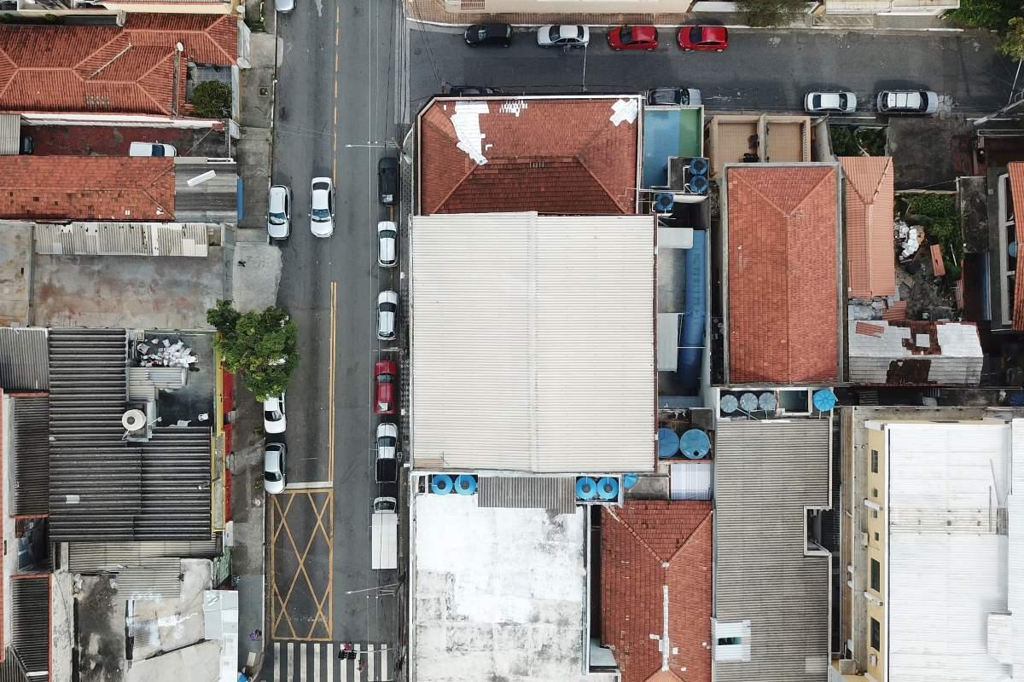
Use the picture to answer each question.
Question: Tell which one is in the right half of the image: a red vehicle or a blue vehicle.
red vehicle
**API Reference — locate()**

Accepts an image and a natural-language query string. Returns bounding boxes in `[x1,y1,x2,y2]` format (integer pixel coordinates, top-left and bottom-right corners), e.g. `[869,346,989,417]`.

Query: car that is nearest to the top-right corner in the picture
[874,86,937,117]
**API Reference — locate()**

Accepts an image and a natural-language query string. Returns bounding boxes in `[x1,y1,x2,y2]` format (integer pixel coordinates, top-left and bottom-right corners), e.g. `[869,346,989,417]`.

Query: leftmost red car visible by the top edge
[606,23,659,53]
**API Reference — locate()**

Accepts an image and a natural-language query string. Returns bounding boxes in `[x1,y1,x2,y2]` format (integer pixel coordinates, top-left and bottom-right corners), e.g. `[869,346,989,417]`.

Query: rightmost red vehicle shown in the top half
[676,23,729,54]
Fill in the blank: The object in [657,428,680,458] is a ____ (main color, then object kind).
blue water tank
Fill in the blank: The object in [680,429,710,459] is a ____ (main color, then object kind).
blue water tank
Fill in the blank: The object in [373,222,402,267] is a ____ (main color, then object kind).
white car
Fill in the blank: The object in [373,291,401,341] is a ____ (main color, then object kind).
white car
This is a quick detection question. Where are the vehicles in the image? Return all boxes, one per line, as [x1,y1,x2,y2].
[374,157,403,207]
[334,651,360,664]
[645,83,702,105]
[371,359,399,415]
[373,291,401,341]
[368,494,402,573]
[263,185,294,242]
[260,442,290,494]
[802,87,856,117]
[676,23,729,54]
[260,377,290,434]
[373,423,401,484]
[274,0,299,15]
[874,86,937,117]
[373,222,402,267]
[0,134,37,156]
[537,20,589,52]
[124,137,179,157]
[307,177,337,239]
[606,23,659,53]
[465,19,513,50]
